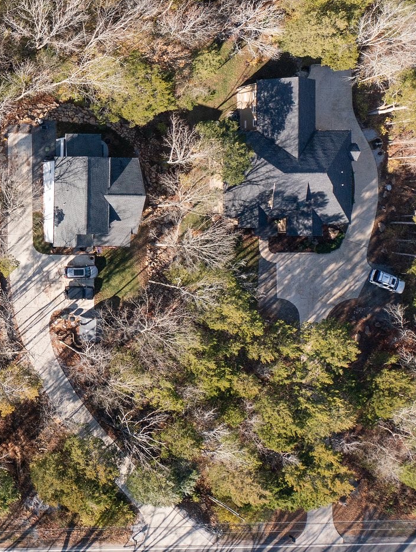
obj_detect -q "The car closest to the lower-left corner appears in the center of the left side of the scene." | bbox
[59,282,94,299]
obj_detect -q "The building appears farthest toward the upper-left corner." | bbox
[43,134,146,247]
